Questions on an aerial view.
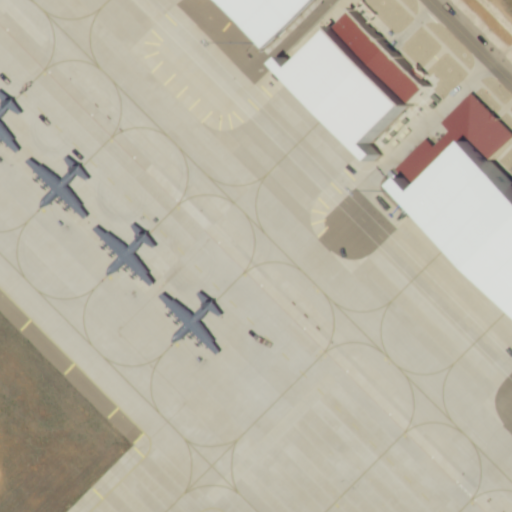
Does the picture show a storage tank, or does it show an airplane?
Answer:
airplane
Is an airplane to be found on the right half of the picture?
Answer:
No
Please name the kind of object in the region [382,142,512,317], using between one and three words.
hangar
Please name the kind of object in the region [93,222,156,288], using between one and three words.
airplane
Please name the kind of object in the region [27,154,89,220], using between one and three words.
airplane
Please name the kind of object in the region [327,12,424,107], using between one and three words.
building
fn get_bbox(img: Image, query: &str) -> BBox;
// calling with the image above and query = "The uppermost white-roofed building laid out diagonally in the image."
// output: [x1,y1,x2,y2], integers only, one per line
[265,30,404,160]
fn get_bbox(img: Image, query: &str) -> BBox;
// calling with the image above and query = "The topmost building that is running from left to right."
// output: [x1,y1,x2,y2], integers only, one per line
[212,0,314,48]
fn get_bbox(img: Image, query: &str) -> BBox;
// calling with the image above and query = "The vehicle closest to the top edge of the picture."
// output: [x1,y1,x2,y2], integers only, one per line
[442,2,457,16]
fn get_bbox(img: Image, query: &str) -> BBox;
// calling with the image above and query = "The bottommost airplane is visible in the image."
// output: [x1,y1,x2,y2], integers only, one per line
[159,290,222,355]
